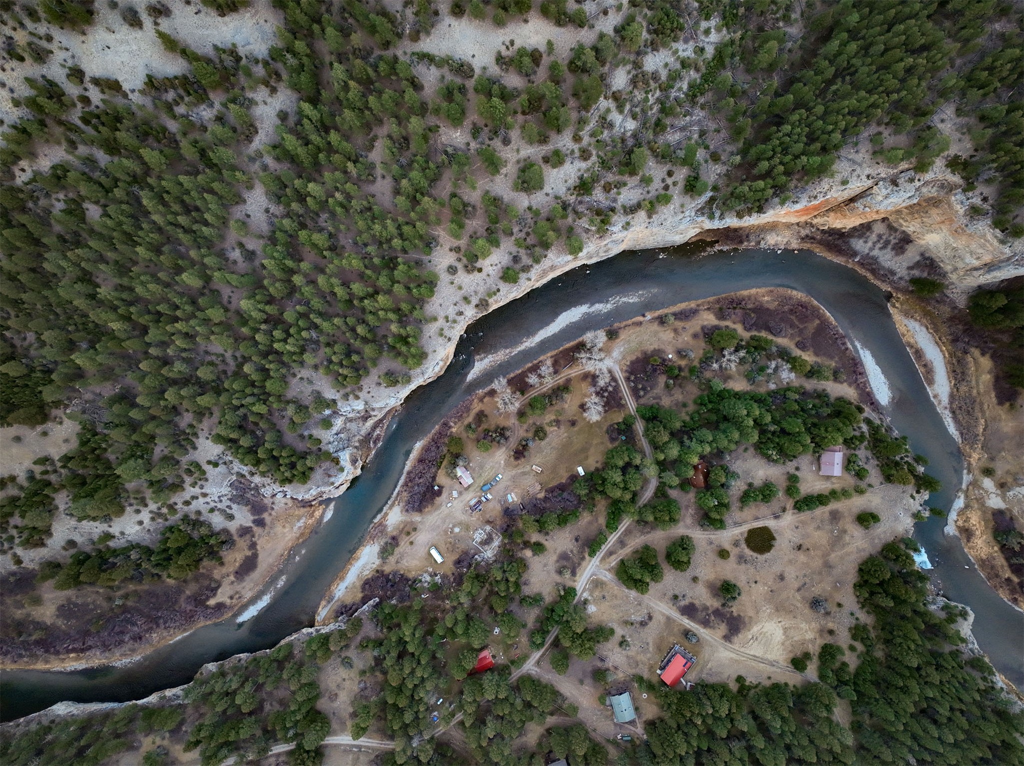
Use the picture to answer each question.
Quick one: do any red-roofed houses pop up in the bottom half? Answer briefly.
Yes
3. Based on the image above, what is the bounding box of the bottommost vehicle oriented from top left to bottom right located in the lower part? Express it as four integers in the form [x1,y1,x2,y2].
[430,547,444,564]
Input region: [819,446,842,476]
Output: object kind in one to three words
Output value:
building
